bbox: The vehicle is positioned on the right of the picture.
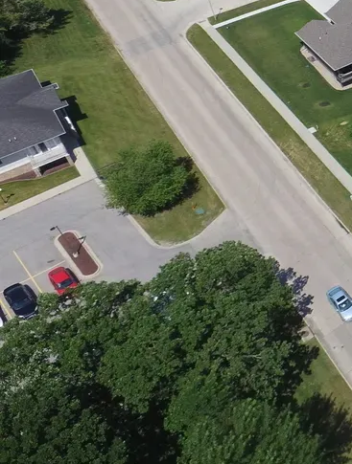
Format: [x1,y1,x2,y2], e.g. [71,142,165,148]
[323,284,352,325]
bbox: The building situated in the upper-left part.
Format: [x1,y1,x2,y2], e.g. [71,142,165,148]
[0,69,75,185]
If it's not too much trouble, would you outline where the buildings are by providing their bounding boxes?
[294,0,352,95]
[0,69,75,185]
